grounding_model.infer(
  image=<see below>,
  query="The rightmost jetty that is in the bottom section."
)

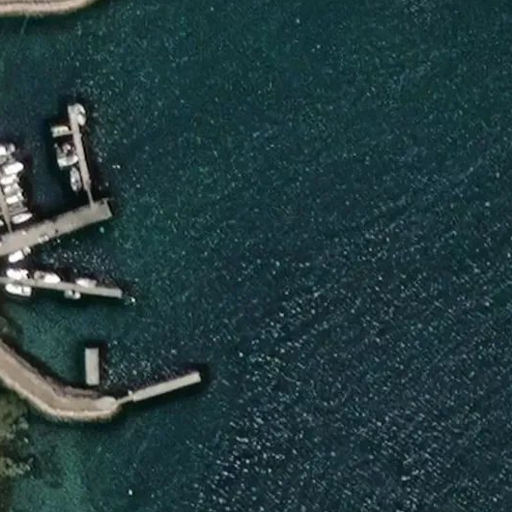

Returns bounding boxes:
[133,372,200,401]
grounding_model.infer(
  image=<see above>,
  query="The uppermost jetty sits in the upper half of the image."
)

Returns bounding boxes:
[52,105,91,188]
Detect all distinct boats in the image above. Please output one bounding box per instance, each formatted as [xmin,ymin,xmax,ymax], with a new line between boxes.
[50,127,69,137]
[69,164,82,190]
[56,155,78,167]
[62,290,80,299]
[76,278,99,287]
[76,106,89,128]
[10,213,34,224]
[5,193,25,204]
[1,184,23,194]
[0,173,19,185]
[1,163,24,176]
[7,268,31,280]
[54,143,74,153]
[32,270,61,283]
[0,154,16,164]
[7,203,27,214]
[9,245,31,261]
[6,283,34,296]
[0,144,16,155]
